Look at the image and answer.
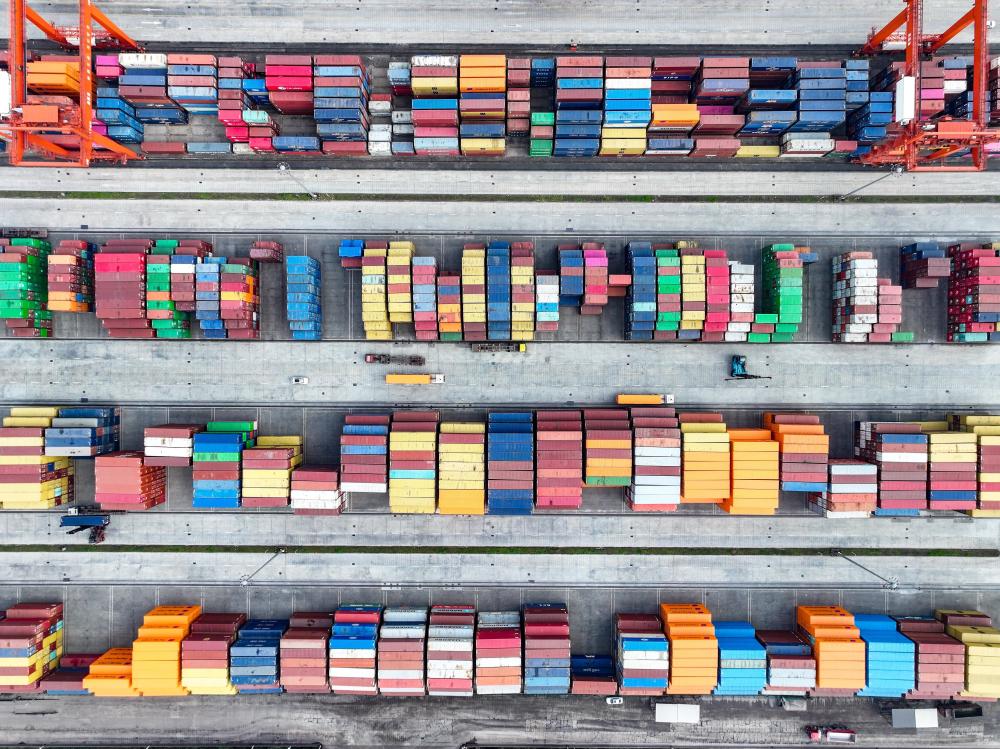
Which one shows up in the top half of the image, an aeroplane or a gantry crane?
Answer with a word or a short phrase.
gantry crane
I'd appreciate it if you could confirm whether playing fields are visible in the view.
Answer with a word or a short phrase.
No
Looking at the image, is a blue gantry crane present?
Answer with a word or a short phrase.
No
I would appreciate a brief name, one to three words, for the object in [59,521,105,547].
work vehicle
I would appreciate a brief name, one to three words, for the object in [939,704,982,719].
vehicle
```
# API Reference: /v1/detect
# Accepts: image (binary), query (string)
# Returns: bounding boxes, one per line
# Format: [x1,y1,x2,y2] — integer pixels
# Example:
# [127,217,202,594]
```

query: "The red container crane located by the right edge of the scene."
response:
[849,0,1000,168]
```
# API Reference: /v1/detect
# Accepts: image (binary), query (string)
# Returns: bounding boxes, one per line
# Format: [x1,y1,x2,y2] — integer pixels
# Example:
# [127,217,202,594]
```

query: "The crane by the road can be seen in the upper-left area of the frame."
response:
[0,0,147,163]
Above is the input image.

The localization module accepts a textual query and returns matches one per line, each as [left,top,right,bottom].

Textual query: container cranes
[0,0,147,163]
[849,0,1000,168]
